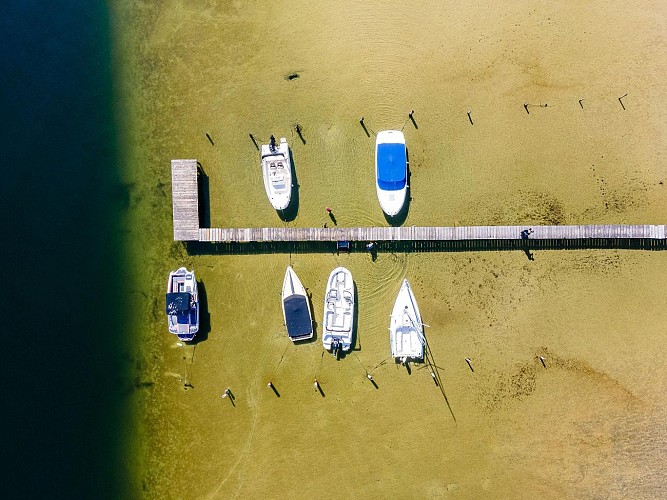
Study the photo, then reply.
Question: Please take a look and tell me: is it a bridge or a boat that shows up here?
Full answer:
The one in the frame is a boat.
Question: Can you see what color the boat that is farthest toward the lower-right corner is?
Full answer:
The color of the boat that is farthest toward the lower-right corner is white.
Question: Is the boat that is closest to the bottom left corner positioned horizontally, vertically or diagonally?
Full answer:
In this picture, the boat that is closest to the bottom left corner is oriented vertically.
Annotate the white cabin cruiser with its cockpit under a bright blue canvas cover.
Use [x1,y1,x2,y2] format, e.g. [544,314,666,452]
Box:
[376,131,406,218]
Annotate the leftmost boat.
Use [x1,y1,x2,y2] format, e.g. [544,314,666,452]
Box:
[168,268,199,340]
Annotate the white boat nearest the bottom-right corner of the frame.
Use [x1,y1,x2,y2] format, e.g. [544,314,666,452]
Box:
[390,279,429,364]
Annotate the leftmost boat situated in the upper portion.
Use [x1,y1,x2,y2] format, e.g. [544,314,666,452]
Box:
[263,131,293,210]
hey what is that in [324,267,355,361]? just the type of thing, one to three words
boat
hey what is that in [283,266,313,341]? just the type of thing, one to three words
boat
